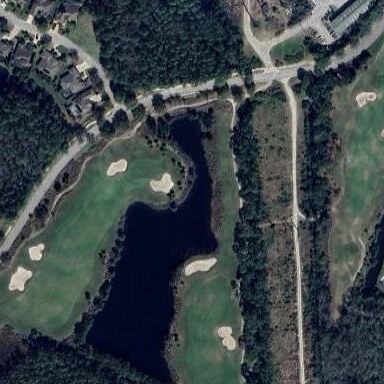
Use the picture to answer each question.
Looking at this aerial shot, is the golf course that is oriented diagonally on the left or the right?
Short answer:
left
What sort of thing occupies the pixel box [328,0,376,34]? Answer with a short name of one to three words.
building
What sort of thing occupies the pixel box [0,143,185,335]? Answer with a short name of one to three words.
golf course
